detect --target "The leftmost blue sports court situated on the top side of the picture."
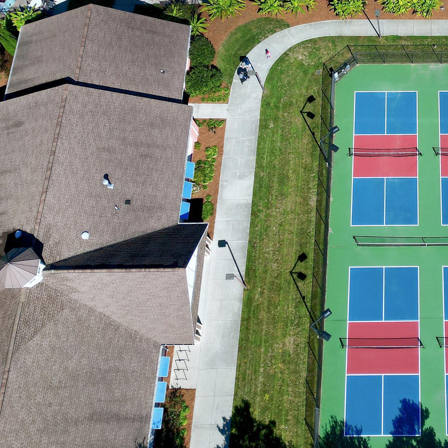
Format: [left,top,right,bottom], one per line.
[351,91,418,226]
